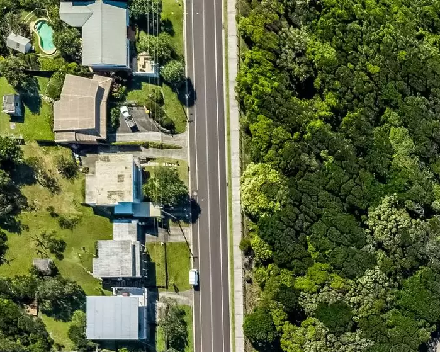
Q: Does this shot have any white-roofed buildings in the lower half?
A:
Yes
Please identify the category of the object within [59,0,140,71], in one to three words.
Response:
house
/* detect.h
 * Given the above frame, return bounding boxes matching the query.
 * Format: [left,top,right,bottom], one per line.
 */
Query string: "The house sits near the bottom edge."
[86,287,153,340]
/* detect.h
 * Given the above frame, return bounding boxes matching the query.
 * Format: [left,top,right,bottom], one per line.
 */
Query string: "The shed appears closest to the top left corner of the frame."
[7,34,35,56]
